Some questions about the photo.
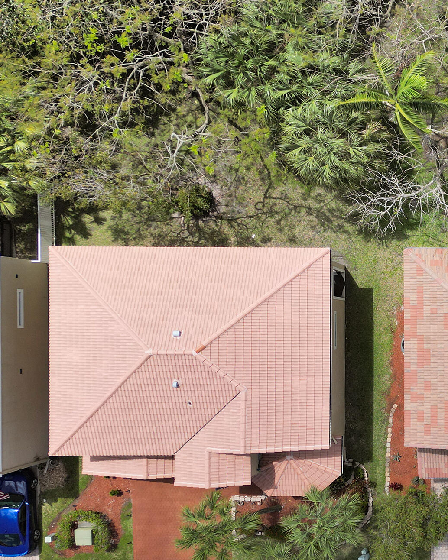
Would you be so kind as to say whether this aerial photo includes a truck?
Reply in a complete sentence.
No, there isn't any truck down there.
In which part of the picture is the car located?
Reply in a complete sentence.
The car sits in the bottom left section of the image.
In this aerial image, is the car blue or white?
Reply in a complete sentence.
The car looks blue in the image.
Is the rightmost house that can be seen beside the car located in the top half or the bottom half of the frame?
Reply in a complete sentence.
The rightmost house that can be seen beside the car is in the bottom half of the image.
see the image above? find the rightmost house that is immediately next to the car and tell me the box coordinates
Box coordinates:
[46,245,346,498]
